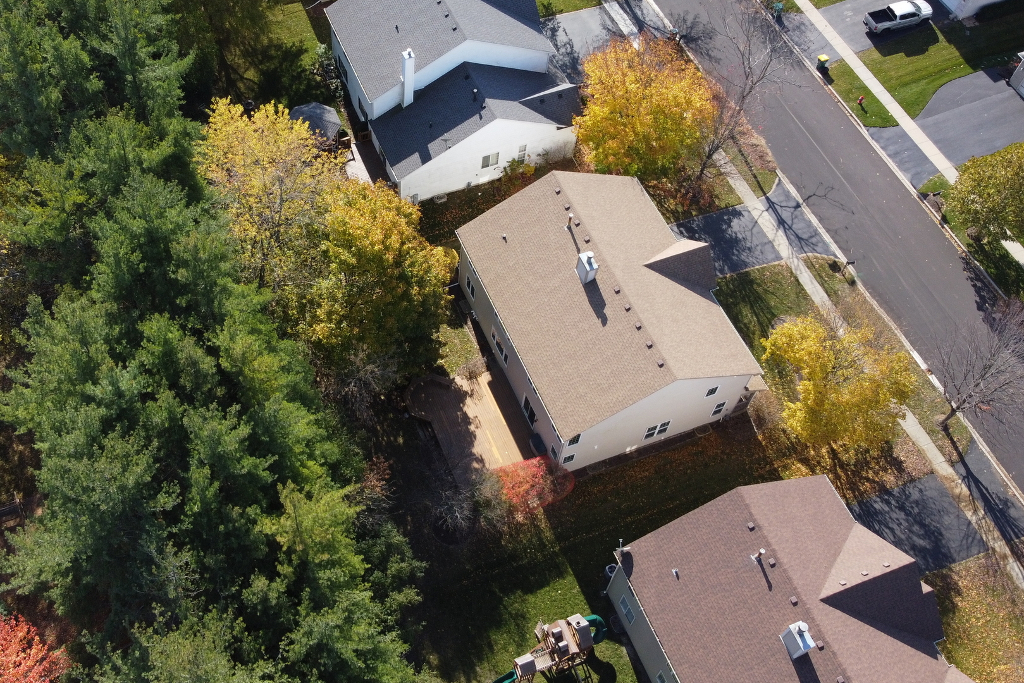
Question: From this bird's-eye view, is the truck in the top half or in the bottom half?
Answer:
top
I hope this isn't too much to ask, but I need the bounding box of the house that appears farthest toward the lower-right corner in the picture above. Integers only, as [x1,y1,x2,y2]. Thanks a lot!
[605,474,1013,683]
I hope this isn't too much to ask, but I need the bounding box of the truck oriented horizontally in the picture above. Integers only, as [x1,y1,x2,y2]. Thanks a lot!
[864,0,940,35]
